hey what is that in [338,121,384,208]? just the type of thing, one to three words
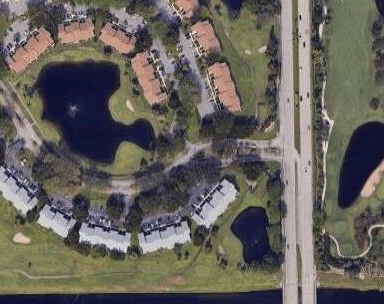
pond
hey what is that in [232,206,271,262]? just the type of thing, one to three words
pond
